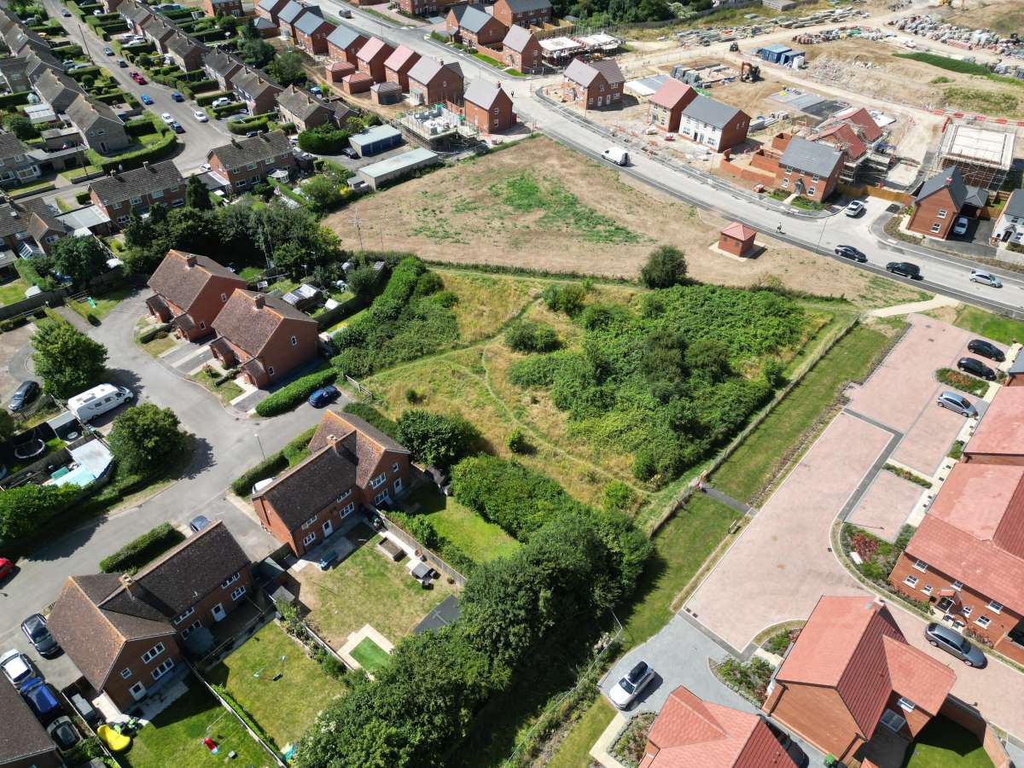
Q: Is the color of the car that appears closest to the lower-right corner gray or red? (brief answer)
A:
gray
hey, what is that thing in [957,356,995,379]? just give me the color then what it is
black car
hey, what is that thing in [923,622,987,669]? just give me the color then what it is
gray car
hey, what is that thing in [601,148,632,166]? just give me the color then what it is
white vehicle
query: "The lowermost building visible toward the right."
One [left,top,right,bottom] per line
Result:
[640,693,787,768]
